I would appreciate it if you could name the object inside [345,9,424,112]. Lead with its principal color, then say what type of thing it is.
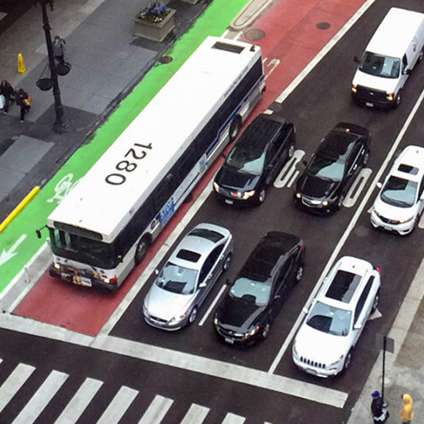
white van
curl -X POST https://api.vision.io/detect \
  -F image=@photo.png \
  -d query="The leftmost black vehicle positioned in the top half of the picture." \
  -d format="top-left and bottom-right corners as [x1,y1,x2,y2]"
[208,109,298,210]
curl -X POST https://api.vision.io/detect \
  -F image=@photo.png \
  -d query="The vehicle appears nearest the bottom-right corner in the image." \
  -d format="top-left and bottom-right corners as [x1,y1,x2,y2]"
[286,258,381,382]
